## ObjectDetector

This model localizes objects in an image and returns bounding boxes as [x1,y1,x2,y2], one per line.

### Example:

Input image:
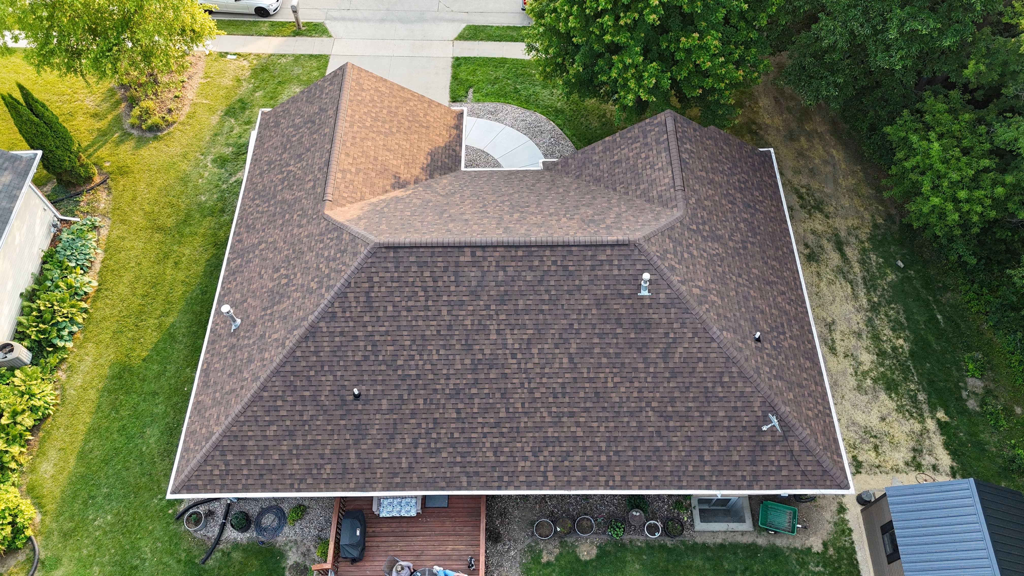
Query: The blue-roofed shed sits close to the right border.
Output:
[860,479,1024,576]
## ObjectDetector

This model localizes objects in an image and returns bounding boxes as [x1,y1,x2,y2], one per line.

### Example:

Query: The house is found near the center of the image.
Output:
[166,60,855,502]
